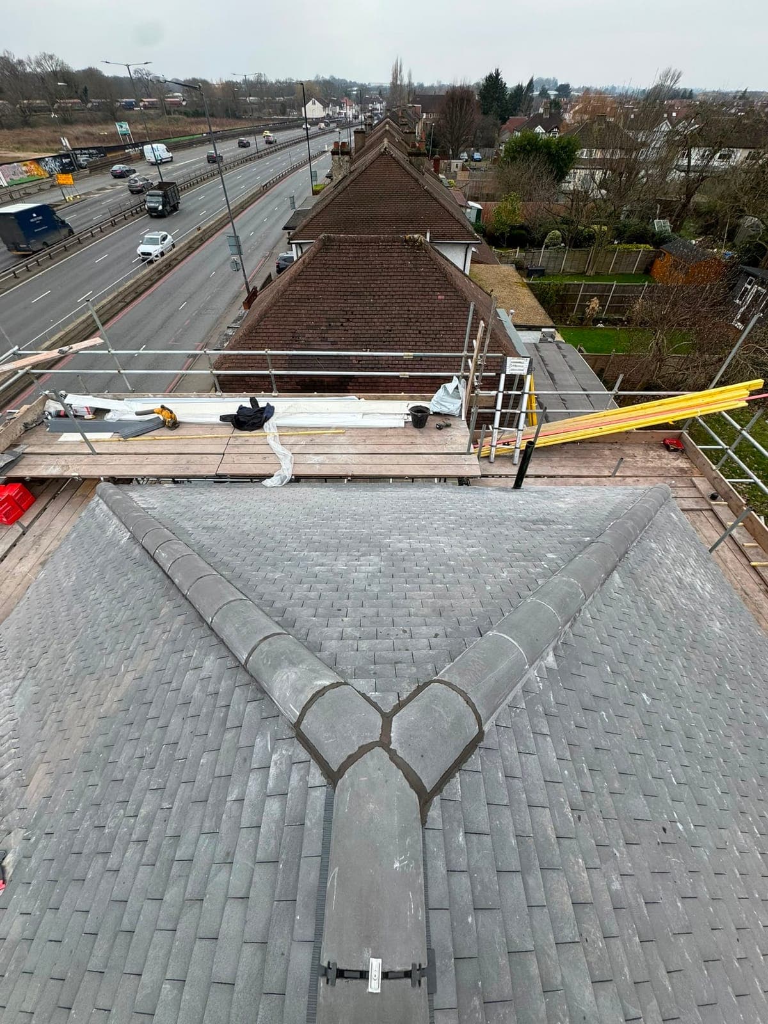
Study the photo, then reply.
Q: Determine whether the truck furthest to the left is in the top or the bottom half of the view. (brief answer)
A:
top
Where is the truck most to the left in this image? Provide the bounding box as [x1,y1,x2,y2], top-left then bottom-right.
[0,202,70,250]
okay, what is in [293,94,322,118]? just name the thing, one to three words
house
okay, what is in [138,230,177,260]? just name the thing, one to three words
car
